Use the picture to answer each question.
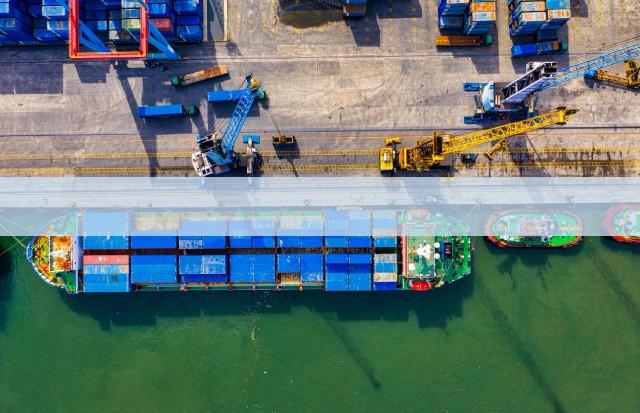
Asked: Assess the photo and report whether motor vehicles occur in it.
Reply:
Yes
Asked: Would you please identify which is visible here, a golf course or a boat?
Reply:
boat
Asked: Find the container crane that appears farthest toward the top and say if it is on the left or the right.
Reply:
left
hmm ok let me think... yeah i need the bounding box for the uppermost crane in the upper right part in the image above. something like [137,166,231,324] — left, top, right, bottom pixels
[463,40,640,125]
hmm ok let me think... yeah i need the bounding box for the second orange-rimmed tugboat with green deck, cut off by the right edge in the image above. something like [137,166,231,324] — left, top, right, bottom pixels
[602,204,640,246]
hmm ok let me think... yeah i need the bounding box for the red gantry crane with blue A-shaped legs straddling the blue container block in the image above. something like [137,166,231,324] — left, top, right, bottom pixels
[64,0,181,67]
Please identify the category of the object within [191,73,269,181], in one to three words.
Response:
crane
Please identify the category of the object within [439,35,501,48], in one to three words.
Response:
vehicle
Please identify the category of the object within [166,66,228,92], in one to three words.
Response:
truck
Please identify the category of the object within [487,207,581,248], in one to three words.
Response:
boat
